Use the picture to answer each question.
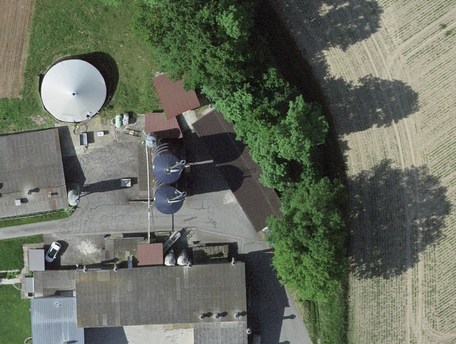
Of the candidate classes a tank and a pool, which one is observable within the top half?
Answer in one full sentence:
There is a tank within the top half.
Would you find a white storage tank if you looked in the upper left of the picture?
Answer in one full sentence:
Yes, I can see a white storage tank in the upper left of the picture.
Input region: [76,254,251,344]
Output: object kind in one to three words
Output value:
barn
